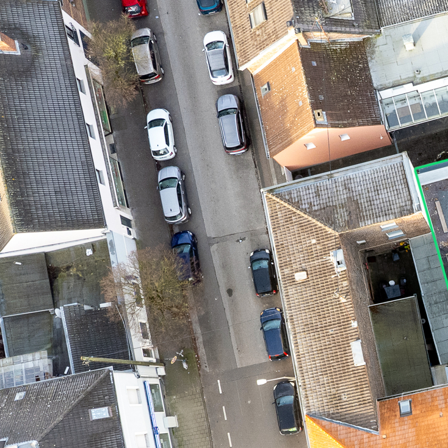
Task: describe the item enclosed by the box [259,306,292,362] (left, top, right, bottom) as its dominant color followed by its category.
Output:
blue car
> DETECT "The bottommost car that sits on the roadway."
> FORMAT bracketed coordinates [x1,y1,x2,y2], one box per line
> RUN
[268,380,303,436]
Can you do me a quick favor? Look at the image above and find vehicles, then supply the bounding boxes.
[247,248,279,298]
[169,230,203,285]
[268,380,303,436]
[132,27,166,87]
[156,166,191,225]
[203,30,236,88]
[213,93,250,157]
[259,306,292,362]
[144,108,179,163]
[195,0,223,18]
